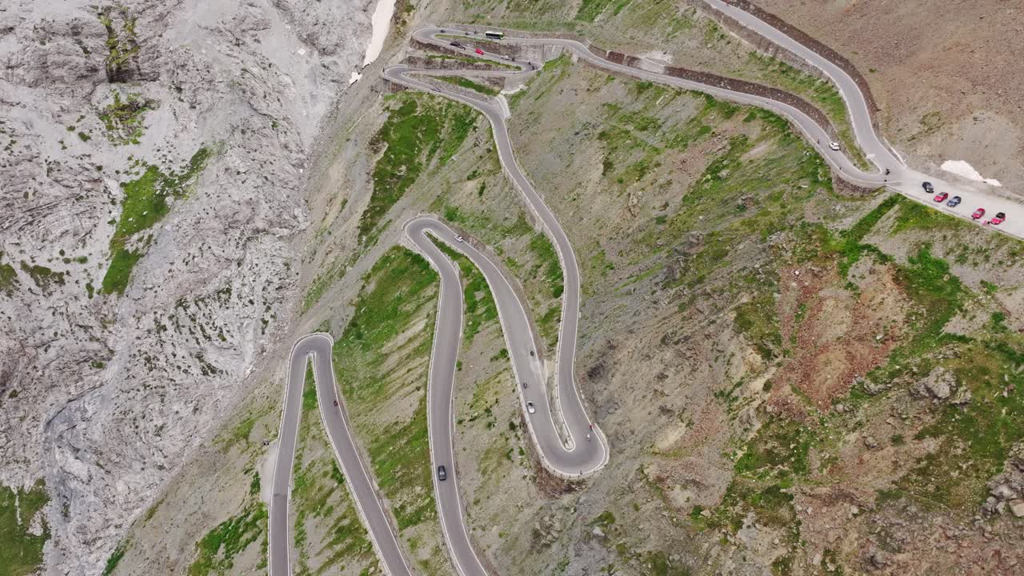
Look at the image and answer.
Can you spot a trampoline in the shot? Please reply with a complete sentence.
No, I can see no trampoline in this picture.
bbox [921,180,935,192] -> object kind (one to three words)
vehicle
